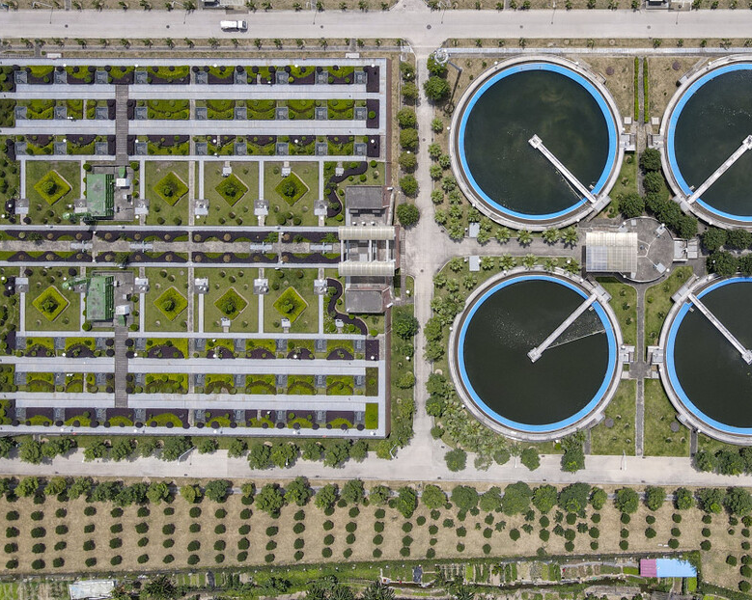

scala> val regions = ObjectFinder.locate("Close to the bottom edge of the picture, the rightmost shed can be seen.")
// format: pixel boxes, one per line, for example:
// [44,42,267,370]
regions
[640,554,697,576]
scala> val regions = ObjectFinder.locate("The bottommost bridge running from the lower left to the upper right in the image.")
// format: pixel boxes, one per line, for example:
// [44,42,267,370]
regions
[531,292,605,360]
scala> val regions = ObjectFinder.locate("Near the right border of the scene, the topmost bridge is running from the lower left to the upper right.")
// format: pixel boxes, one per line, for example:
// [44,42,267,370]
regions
[685,137,752,206]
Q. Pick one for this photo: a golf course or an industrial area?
industrial area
